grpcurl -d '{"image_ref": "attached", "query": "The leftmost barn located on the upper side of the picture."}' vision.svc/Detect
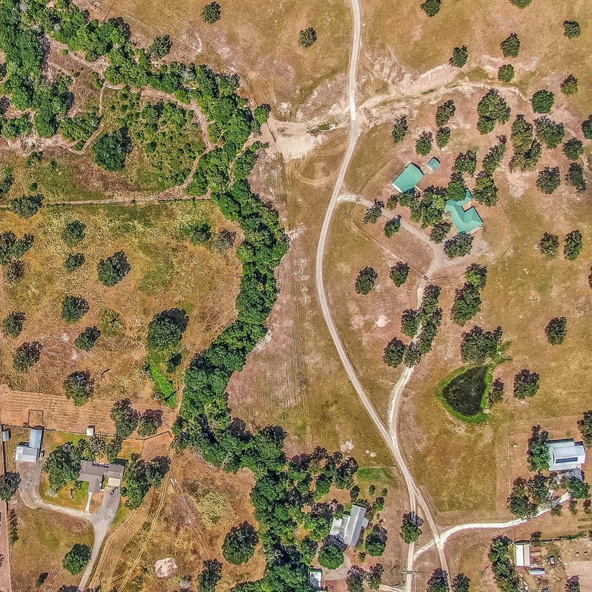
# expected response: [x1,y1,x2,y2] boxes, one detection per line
[389,160,425,194]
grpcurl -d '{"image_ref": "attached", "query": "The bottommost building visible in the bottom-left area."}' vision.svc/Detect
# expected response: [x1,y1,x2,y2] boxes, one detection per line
[80,458,125,495]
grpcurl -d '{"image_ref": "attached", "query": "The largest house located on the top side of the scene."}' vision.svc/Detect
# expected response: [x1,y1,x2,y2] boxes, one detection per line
[441,188,484,237]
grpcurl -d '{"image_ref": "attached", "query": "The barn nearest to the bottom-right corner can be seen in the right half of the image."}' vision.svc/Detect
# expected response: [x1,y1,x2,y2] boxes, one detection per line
[511,539,542,567]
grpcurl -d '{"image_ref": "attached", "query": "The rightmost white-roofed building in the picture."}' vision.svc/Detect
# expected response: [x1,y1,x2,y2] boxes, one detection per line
[544,440,588,472]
